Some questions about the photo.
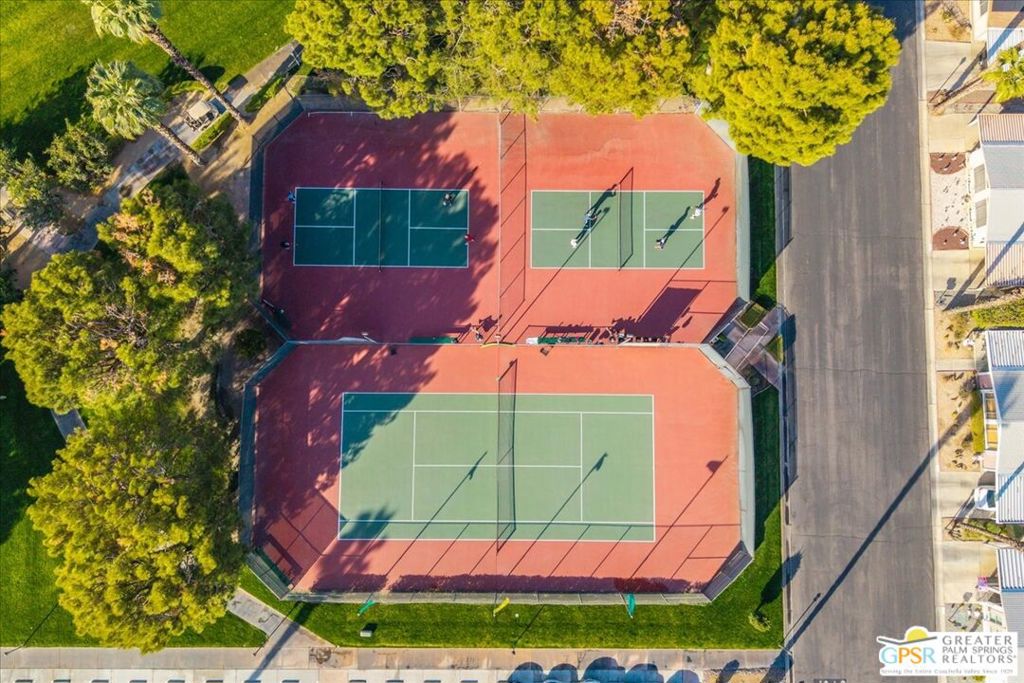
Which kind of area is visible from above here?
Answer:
sports ground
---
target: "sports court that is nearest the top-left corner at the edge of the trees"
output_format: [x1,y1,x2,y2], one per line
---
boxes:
[263,112,499,343]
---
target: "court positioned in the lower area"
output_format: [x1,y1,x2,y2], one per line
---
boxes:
[255,344,742,593]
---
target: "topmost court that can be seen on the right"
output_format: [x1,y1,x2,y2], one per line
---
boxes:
[500,112,737,343]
